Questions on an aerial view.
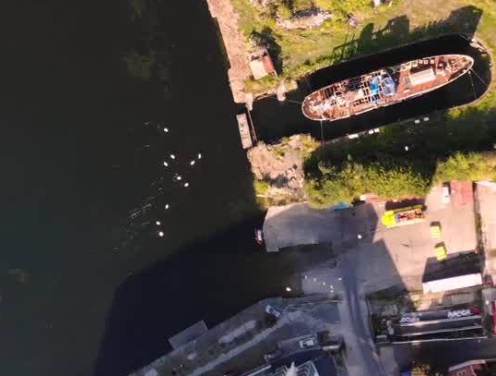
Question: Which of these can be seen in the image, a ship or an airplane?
ship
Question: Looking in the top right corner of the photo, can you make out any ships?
Yes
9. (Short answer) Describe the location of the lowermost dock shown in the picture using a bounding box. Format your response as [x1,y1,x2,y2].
[168,319,207,347]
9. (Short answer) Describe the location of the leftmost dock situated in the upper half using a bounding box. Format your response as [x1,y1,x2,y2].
[237,113,255,148]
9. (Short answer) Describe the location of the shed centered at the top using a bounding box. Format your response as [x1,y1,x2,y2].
[251,54,275,76]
